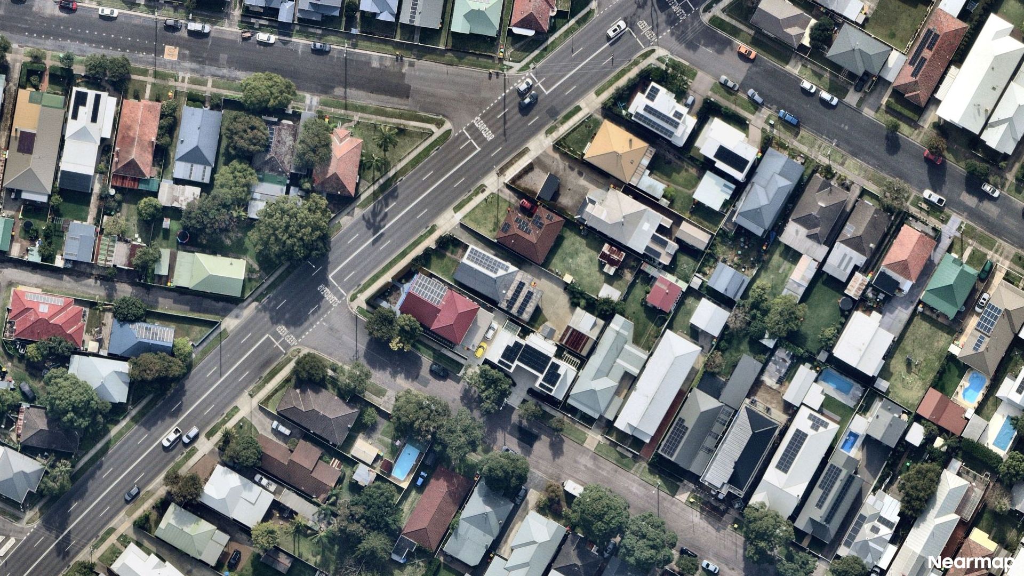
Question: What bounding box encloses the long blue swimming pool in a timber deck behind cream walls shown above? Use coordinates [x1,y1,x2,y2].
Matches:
[390,442,421,481]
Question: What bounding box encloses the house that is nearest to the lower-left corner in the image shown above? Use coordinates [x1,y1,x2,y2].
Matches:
[0,446,45,503]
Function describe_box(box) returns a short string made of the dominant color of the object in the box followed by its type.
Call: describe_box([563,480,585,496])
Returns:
white camper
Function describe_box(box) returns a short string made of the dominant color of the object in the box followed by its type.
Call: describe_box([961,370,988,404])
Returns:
blue swimming pool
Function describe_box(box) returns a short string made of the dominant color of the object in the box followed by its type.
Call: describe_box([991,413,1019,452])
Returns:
blue swimming pool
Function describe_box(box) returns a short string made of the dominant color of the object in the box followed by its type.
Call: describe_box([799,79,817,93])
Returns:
white car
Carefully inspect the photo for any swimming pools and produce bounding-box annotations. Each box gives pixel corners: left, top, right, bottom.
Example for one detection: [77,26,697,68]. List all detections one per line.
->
[390,442,421,481]
[819,366,856,397]
[991,413,1019,452]
[840,431,862,454]
[961,370,988,404]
